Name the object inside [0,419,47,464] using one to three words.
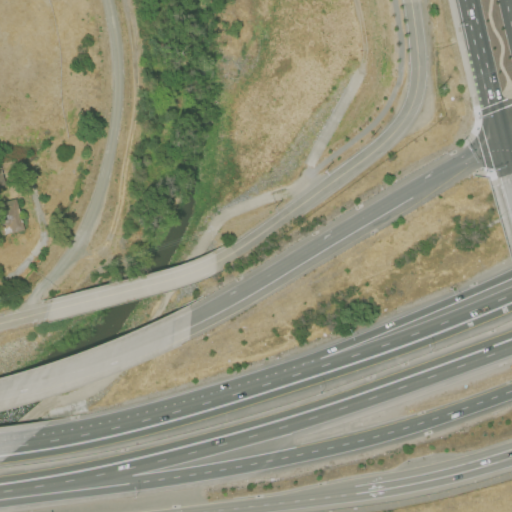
bridge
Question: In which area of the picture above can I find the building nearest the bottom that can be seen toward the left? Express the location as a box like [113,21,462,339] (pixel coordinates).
[4,200,24,237]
